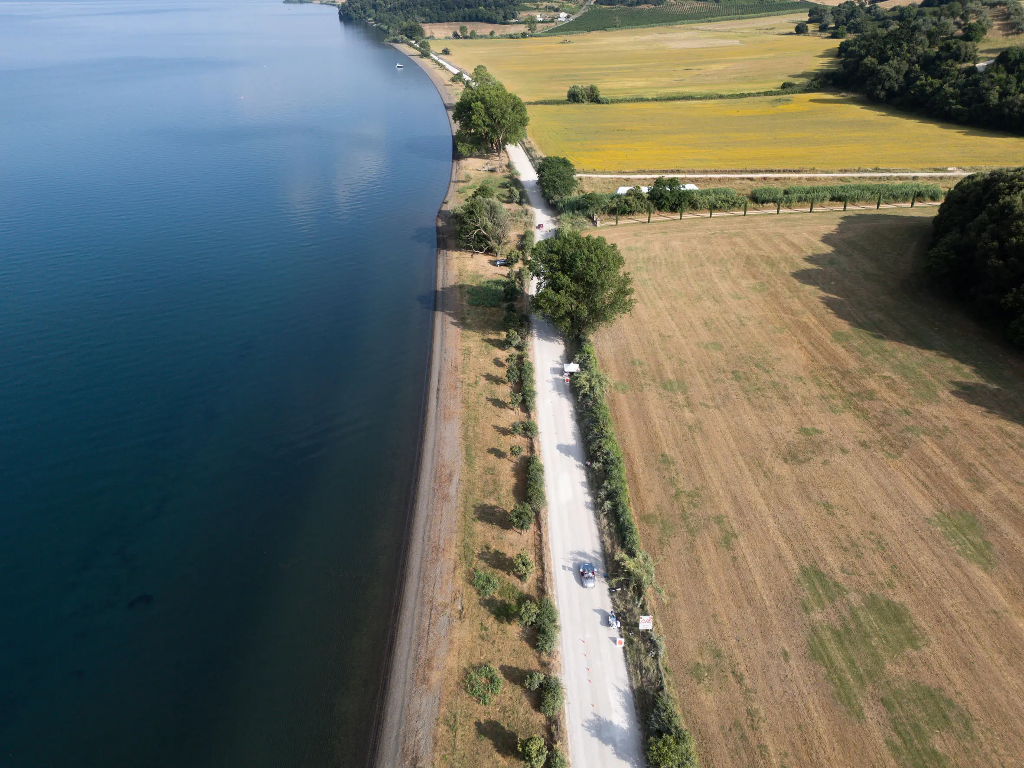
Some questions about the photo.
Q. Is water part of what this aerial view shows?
Yes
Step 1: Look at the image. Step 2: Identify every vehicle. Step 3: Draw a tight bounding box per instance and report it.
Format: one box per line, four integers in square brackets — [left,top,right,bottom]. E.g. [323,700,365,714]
[580,560,598,591]
[537,223,544,230]
[492,258,514,267]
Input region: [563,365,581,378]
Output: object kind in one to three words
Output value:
gazebo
